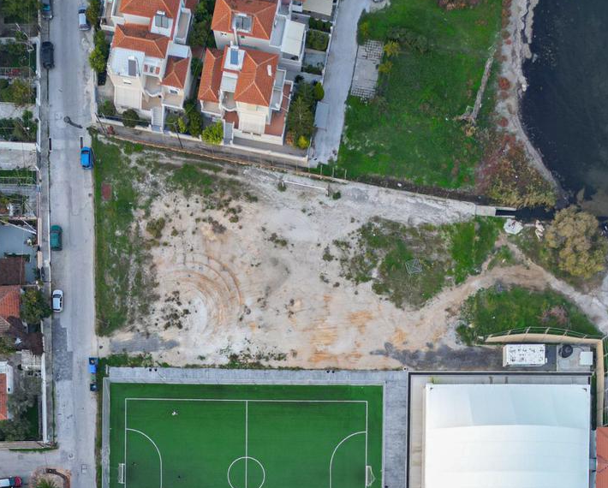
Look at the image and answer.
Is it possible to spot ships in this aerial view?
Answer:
No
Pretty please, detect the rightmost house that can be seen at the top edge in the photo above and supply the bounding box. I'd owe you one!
[197,0,333,147]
